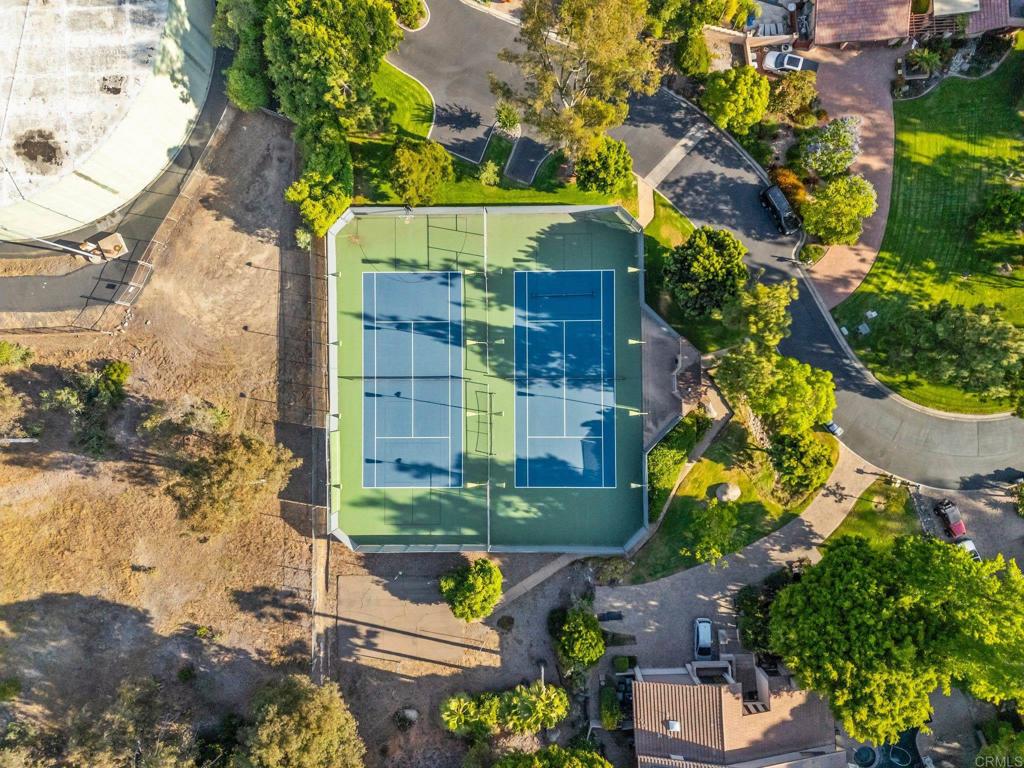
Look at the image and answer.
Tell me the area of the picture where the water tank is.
top left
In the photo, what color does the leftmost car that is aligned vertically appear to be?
blue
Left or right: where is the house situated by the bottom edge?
right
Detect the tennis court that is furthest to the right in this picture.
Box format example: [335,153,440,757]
[487,213,644,547]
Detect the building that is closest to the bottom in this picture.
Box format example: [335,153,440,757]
[632,653,846,768]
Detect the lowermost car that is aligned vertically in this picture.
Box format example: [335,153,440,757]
[693,616,715,660]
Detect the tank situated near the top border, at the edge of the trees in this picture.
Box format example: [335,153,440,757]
[0,0,212,241]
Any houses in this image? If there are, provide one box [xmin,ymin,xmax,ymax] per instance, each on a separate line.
[809,0,1024,54]
[632,653,846,768]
